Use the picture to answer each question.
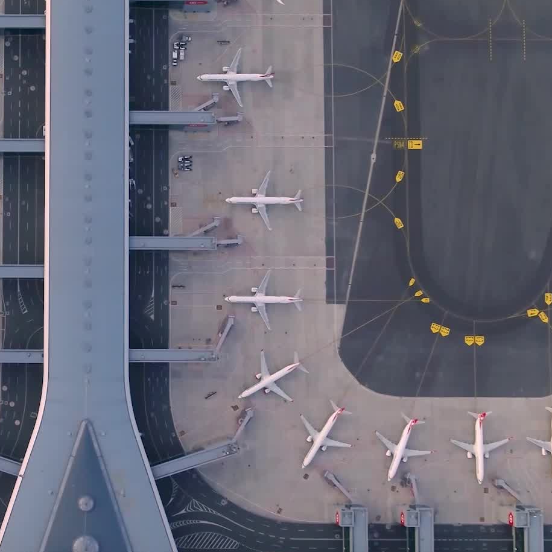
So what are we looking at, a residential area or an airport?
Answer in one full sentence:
The picture captures an airport.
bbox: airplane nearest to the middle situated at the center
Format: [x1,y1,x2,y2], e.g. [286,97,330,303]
[225,269,305,330]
